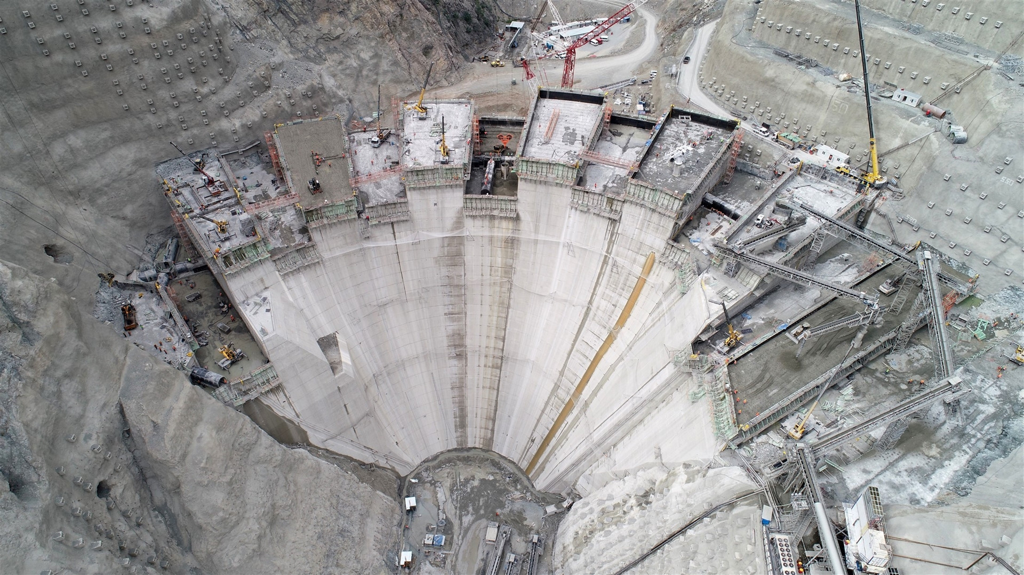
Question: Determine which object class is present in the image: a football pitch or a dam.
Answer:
dam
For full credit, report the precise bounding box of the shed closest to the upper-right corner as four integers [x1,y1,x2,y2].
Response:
[892,88,920,107]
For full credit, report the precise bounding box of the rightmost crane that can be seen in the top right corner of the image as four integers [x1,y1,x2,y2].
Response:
[838,0,895,189]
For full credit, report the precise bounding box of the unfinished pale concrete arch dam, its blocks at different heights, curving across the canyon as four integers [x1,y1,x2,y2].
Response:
[169,98,963,525]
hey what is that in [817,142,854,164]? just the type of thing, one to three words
shed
